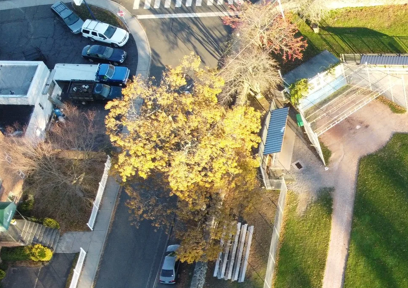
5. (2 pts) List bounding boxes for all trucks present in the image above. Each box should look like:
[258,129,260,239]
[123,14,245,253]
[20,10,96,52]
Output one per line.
[56,79,124,104]
[52,59,134,87]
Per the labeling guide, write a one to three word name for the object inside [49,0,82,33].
car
